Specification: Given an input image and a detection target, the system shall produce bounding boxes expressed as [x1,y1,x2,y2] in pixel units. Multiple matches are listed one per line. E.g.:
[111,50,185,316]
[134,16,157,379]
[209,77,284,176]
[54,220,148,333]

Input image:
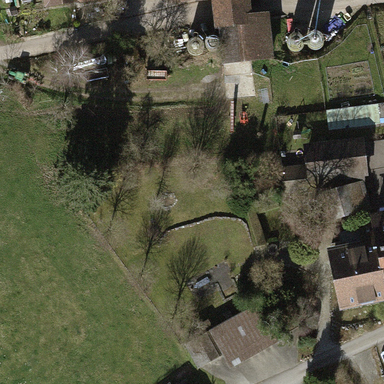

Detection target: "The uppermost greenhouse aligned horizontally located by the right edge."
[326,104,380,129]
